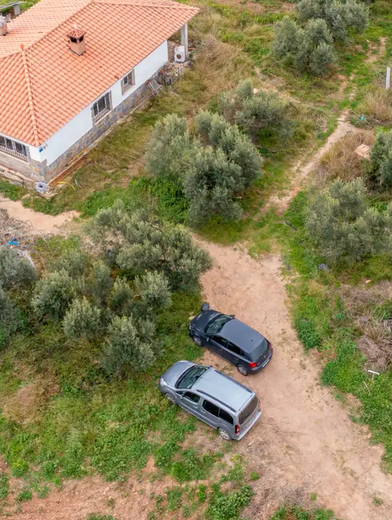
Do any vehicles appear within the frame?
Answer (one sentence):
Yes, looking at the shot, I can spot a vehicle.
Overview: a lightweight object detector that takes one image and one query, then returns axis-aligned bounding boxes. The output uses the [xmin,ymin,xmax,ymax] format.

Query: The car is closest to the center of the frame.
[189,309,275,377]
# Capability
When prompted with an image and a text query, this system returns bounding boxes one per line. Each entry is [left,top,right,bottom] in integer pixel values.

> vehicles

[189,309,275,377]
[158,357,263,442]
